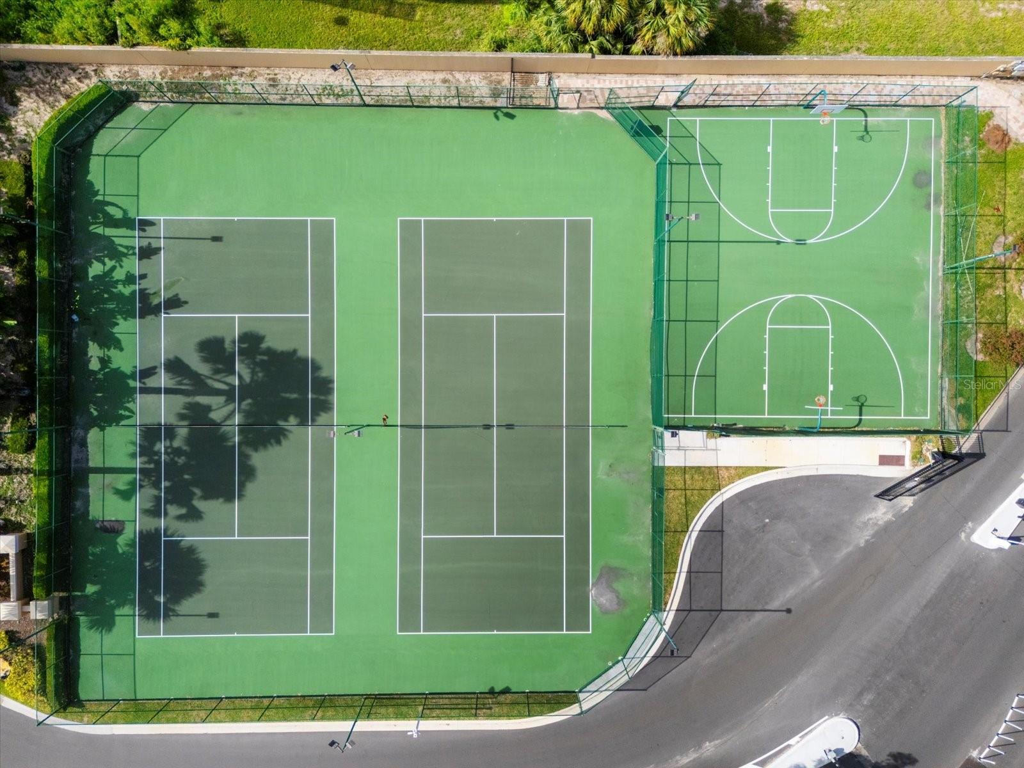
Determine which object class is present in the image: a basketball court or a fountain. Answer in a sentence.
Looking from above, you can make out a basketball court.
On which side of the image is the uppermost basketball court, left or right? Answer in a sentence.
You can find the uppermost basketball court on the right side of the picture.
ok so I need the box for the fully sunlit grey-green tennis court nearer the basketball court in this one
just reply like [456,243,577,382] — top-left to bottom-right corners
[397,218,592,634]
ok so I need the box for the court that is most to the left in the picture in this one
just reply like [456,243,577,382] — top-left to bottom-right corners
[136,218,335,637]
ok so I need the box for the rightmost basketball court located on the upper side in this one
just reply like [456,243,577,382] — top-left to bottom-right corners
[661,110,938,424]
